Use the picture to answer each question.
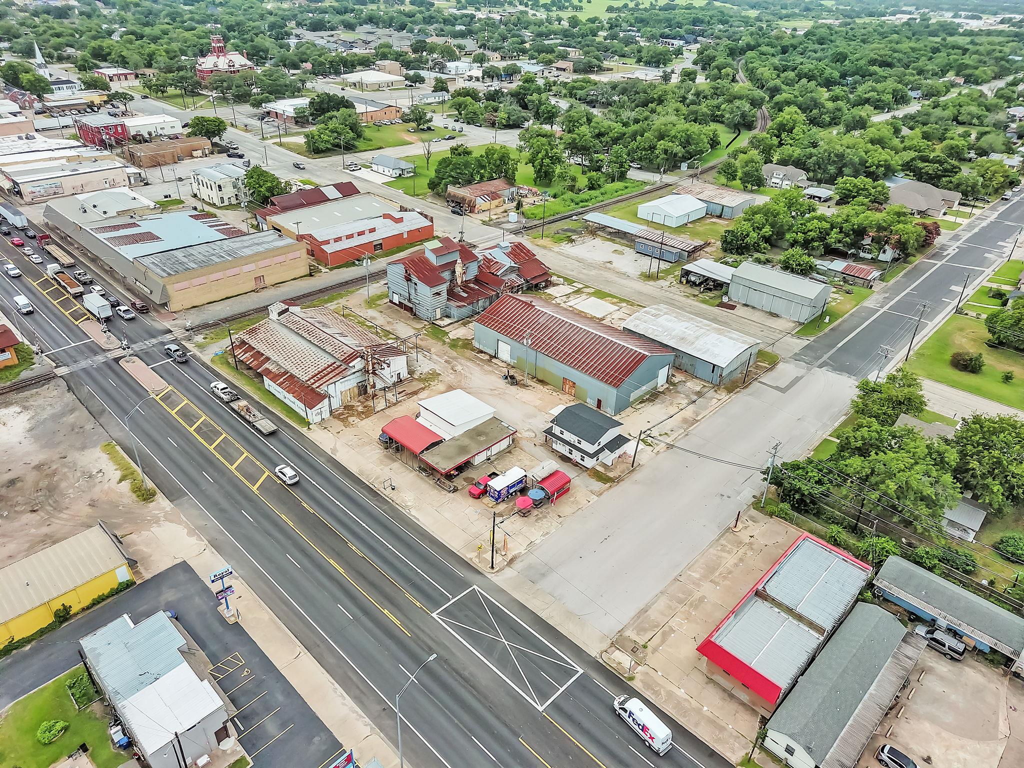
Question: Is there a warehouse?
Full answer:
Yes, a warehouse can be made out from above.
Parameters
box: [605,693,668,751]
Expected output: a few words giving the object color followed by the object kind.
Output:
white van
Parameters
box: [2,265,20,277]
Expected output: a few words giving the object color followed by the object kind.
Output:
white vehicle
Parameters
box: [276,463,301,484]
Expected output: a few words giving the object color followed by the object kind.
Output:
white car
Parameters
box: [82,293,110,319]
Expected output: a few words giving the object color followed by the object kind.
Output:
white truck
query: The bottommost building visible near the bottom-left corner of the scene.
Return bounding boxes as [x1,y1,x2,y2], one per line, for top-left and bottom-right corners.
[77,611,230,768]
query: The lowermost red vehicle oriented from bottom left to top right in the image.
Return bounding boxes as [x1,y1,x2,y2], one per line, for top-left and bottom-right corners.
[469,475,496,500]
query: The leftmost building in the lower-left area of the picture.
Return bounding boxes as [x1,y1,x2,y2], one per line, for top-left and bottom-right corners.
[0,518,137,646]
